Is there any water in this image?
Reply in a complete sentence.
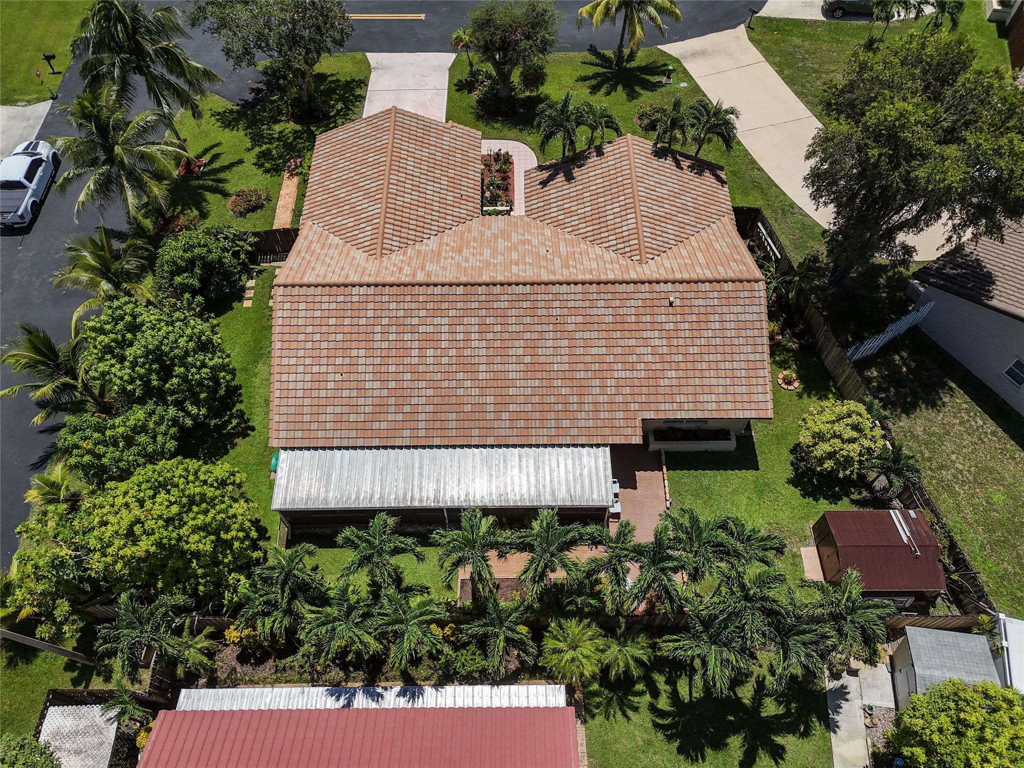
No, no water is visible.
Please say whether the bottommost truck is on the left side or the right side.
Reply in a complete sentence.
It is on the left.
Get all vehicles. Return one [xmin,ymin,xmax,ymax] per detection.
[0,143,64,232]
[822,0,891,22]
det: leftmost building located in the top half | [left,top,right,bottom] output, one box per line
[266,107,776,454]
